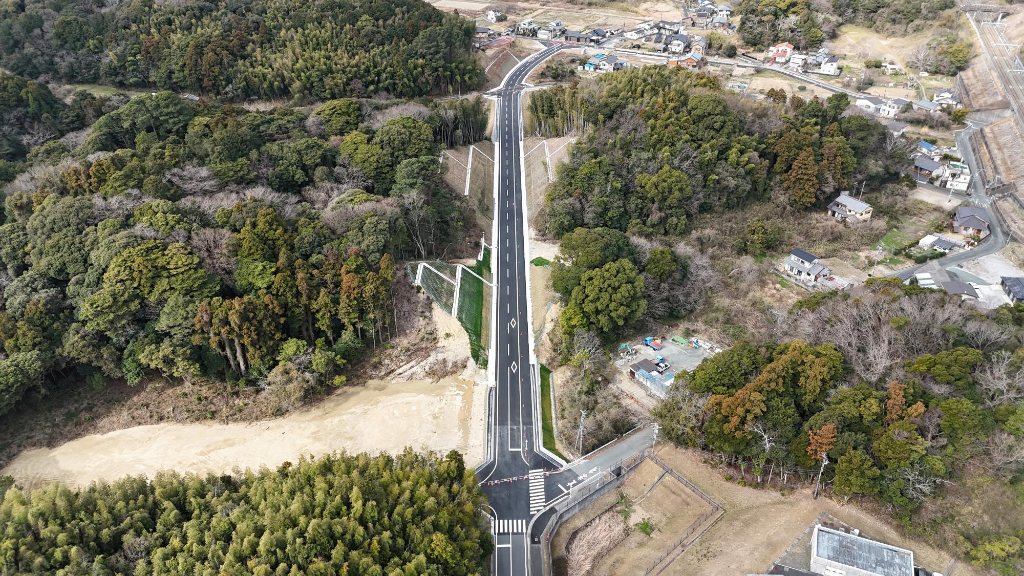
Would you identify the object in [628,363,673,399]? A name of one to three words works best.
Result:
shed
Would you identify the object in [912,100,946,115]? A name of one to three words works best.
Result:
house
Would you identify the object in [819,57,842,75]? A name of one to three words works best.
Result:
house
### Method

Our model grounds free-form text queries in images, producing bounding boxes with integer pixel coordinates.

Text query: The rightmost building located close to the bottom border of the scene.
[810,520,917,576]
